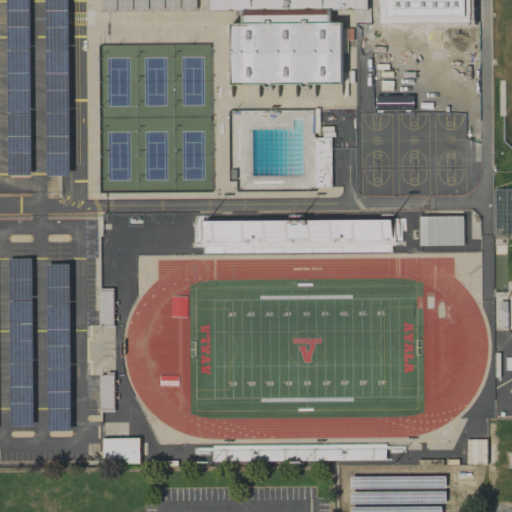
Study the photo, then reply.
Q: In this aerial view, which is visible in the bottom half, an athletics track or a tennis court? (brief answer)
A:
athletics track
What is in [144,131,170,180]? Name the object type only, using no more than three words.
tennis court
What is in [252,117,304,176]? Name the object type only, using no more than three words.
swimming pool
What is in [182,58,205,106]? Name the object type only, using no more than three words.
tennis court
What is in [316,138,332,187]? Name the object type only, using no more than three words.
building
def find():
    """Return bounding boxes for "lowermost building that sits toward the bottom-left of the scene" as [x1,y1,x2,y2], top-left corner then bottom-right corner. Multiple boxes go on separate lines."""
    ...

[103,438,140,464]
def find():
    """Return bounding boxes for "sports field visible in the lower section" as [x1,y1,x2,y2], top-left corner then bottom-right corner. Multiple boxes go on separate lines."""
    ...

[190,280,423,418]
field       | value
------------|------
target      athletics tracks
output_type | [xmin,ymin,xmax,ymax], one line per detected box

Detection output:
[128,259,488,438]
